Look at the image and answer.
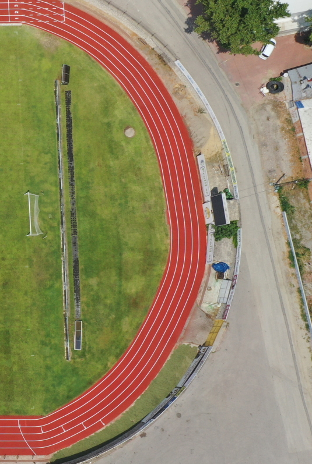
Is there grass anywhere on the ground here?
Yes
